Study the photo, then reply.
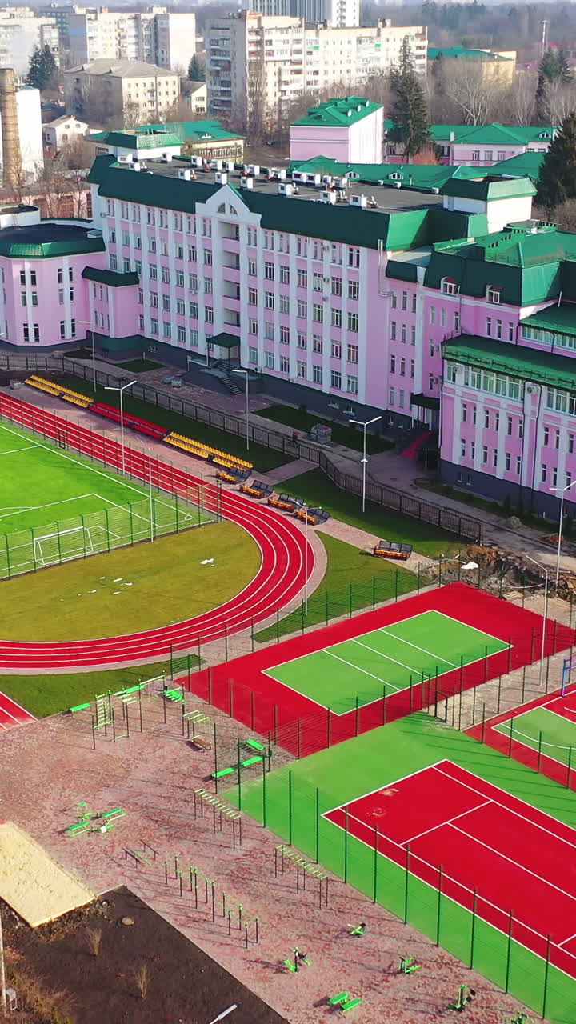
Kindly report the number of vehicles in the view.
0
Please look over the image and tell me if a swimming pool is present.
No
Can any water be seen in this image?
No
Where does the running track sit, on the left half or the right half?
left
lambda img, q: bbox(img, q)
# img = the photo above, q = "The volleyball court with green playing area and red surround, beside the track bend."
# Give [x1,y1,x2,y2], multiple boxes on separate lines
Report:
[171,580,576,759]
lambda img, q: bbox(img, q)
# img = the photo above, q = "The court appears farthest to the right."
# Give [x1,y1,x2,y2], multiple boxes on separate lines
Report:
[463,682,576,790]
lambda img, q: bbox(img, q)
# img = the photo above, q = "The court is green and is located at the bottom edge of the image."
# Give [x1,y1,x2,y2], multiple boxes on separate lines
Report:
[217,710,576,1024]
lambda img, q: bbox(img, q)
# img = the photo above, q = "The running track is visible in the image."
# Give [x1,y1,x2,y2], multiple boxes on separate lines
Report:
[0,396,327,732]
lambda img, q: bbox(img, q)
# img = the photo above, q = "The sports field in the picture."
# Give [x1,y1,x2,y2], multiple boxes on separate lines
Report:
[0,423,215,580]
